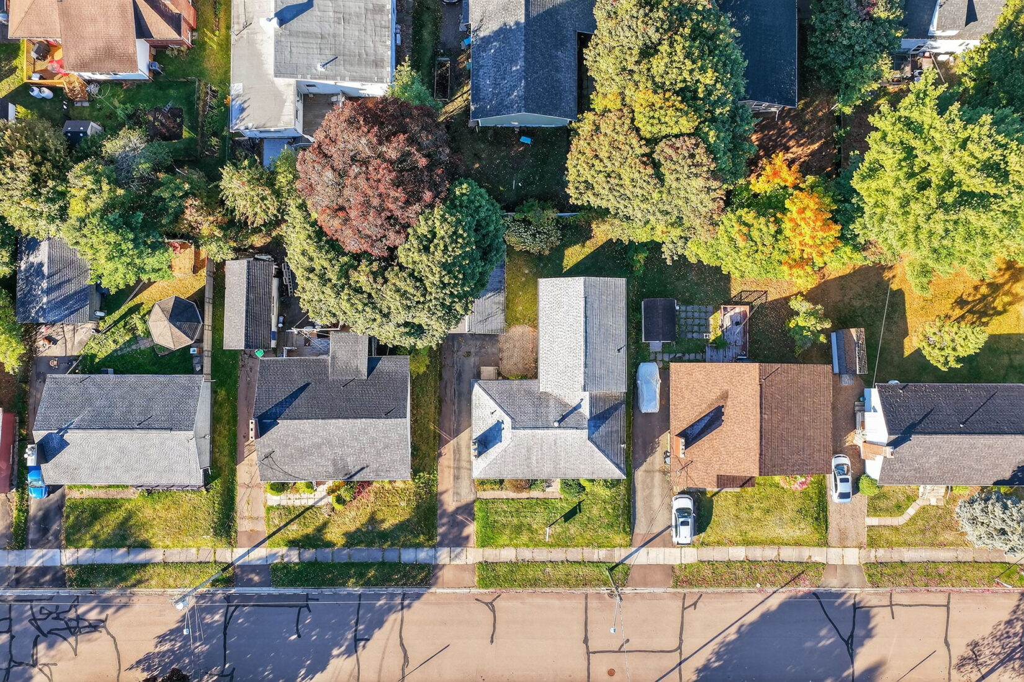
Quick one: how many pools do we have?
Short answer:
0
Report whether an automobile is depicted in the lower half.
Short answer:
Yes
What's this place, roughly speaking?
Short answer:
residential area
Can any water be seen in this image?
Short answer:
No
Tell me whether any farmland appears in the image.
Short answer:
No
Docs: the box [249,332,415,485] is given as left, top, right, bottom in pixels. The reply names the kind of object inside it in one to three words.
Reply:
house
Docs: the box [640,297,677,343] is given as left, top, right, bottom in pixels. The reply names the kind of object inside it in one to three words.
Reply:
shed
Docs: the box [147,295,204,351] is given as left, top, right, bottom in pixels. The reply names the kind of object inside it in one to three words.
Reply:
gazebo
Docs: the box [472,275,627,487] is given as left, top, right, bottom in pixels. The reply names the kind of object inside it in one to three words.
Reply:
house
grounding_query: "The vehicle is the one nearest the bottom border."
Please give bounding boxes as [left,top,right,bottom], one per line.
[670,493,695,545]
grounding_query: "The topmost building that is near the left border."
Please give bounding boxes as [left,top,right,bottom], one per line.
[9,0,194,81]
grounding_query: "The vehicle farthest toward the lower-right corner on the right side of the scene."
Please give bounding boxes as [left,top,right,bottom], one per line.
[829,453,854,503]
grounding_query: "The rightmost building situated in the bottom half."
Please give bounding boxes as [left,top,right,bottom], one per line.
[849,382,1024,500]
